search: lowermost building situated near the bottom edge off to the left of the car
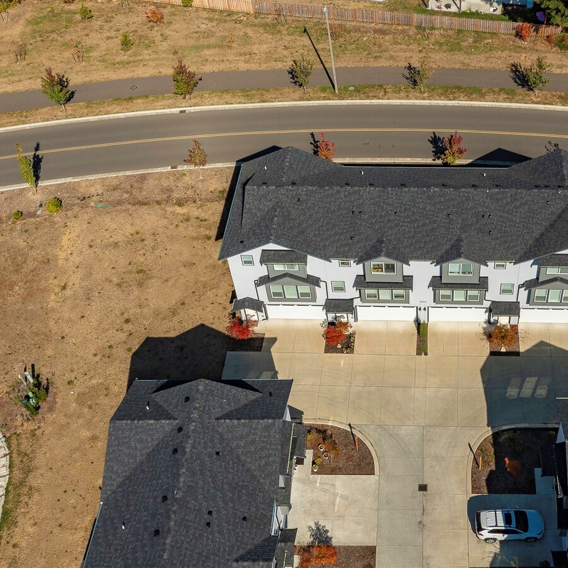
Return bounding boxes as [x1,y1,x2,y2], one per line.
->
[82,375,310,568]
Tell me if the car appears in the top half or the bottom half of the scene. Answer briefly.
bottom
